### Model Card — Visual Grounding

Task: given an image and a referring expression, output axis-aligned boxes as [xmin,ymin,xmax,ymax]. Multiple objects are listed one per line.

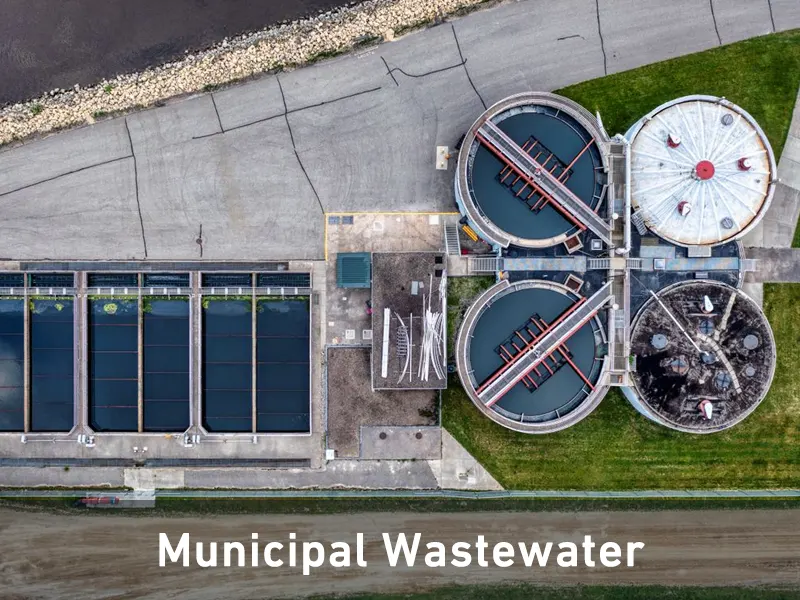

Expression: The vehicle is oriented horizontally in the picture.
[79,496,118,512]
